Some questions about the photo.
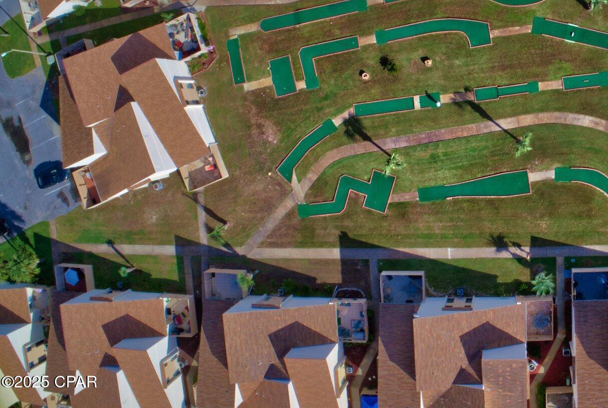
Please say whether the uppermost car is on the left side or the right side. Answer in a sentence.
The uppermost car appears in the left half of the scene.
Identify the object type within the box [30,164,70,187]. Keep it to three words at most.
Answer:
car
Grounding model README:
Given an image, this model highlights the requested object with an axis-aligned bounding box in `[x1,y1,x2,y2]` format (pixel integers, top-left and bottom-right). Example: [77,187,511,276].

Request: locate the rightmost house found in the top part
[58,13,229,209]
